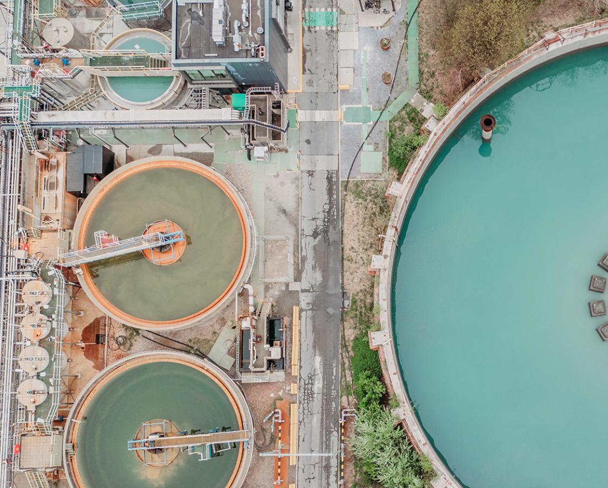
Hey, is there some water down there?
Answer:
Yes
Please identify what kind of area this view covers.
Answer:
industrial area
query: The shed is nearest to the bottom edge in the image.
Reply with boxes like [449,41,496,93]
[67,145,118,200]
